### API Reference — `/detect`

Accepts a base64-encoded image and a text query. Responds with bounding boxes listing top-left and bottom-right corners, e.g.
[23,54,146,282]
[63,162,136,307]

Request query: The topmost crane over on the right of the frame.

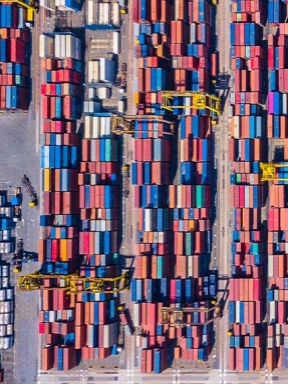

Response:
[161,90,223,115]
